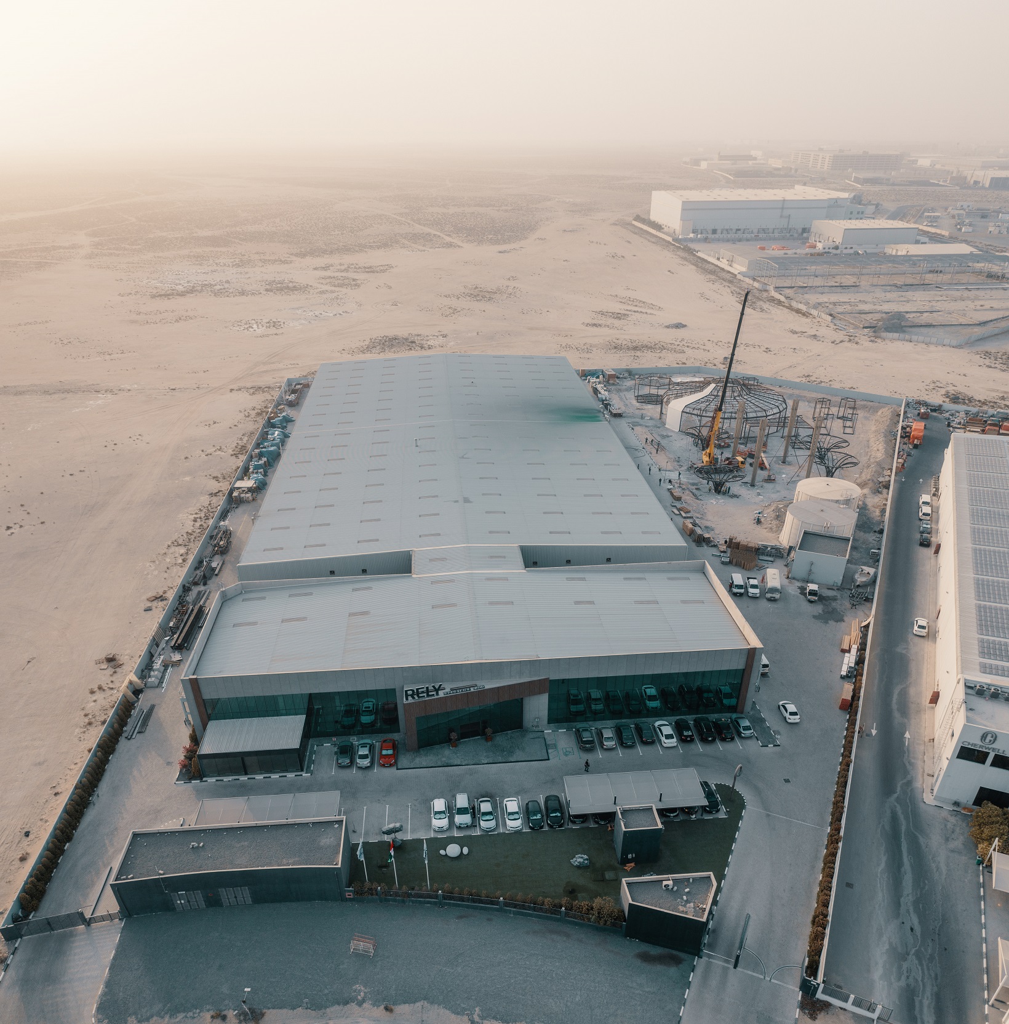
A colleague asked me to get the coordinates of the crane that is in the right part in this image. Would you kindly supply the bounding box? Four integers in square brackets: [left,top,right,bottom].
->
[696,291,751,470]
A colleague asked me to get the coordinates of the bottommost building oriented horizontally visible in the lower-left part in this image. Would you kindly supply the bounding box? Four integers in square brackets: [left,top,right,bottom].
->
[111,817,350,918]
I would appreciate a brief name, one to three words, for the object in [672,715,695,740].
car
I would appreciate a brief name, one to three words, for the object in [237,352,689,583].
warehouse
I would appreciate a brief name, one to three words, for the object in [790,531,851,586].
building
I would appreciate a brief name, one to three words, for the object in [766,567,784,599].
vehicle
